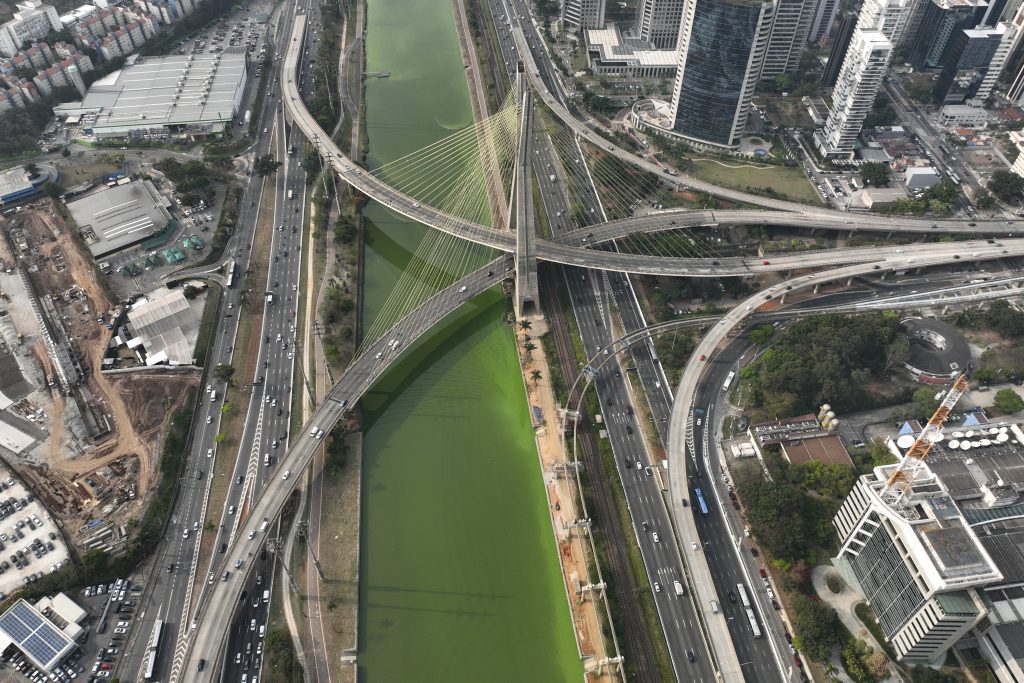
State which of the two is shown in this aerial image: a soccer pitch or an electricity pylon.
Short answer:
electricity pylon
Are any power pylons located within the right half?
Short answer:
No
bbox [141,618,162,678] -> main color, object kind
white bus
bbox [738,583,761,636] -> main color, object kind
white bus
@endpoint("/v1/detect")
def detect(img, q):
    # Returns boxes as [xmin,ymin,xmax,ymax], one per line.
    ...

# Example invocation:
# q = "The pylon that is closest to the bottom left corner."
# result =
[265,546,302,599]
